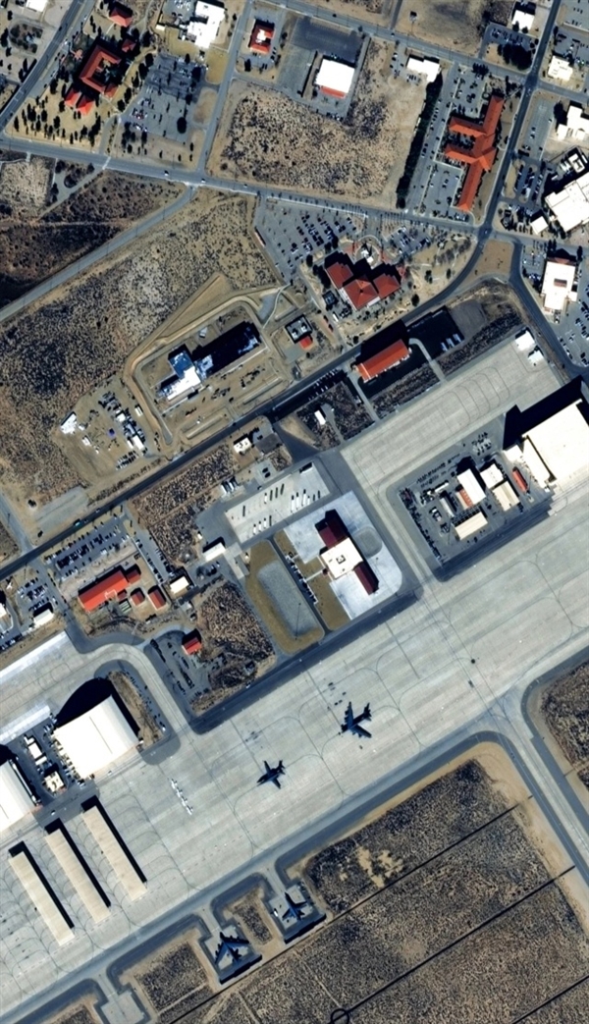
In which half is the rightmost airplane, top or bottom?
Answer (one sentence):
It is in the bottom half that the rightmost airplane appears.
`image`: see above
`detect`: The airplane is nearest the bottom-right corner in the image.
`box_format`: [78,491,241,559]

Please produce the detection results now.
[284,893,307,922]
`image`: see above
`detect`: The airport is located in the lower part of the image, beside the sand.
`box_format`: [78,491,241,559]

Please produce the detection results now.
[0,328,589,1024]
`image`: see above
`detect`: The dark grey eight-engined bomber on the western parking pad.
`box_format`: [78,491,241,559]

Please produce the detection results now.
[219,933,253,967]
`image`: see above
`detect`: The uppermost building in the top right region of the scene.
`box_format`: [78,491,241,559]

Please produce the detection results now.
[512,9,536,30]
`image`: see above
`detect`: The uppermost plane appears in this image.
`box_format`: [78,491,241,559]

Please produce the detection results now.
[343,702,376,738]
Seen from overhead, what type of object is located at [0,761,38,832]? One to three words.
hangar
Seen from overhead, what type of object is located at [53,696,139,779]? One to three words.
hangar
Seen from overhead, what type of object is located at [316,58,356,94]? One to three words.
building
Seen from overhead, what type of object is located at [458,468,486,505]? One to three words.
building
